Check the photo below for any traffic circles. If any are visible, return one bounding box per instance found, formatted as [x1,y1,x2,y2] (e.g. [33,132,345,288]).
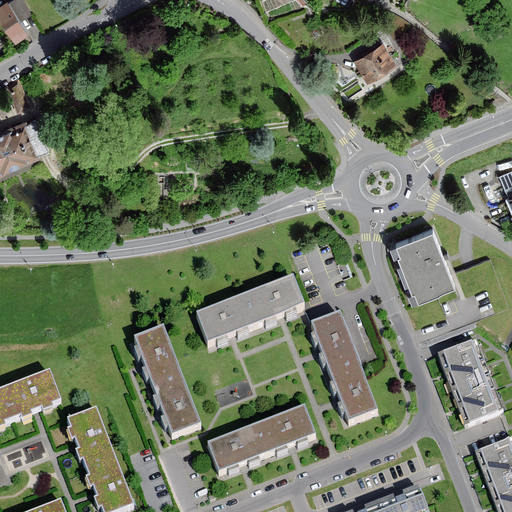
[341,142,420,222]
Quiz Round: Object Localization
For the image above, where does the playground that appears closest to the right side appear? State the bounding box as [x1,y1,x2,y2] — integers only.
[214,379,253,408]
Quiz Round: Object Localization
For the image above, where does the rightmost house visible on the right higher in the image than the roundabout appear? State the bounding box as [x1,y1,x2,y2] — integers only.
[355,44,398,86]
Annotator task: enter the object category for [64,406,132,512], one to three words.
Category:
building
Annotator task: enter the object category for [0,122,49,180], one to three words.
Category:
house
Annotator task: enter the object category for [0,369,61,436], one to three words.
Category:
building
